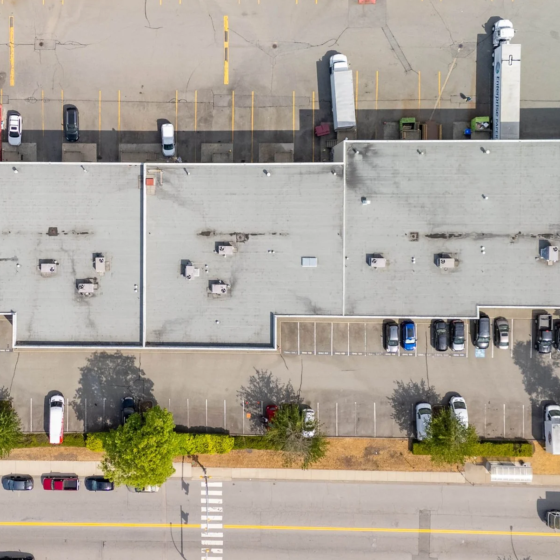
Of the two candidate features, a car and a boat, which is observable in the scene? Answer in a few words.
car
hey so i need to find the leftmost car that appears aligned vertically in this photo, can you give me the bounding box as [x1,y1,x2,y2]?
[7,112,24,149]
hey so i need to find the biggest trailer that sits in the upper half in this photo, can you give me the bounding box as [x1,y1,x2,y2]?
[491,44,520,139]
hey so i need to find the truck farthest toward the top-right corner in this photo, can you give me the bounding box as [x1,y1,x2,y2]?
[490,10,515,66]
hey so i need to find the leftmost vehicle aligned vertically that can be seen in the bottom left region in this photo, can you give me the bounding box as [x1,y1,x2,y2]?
[50,396,67,443]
